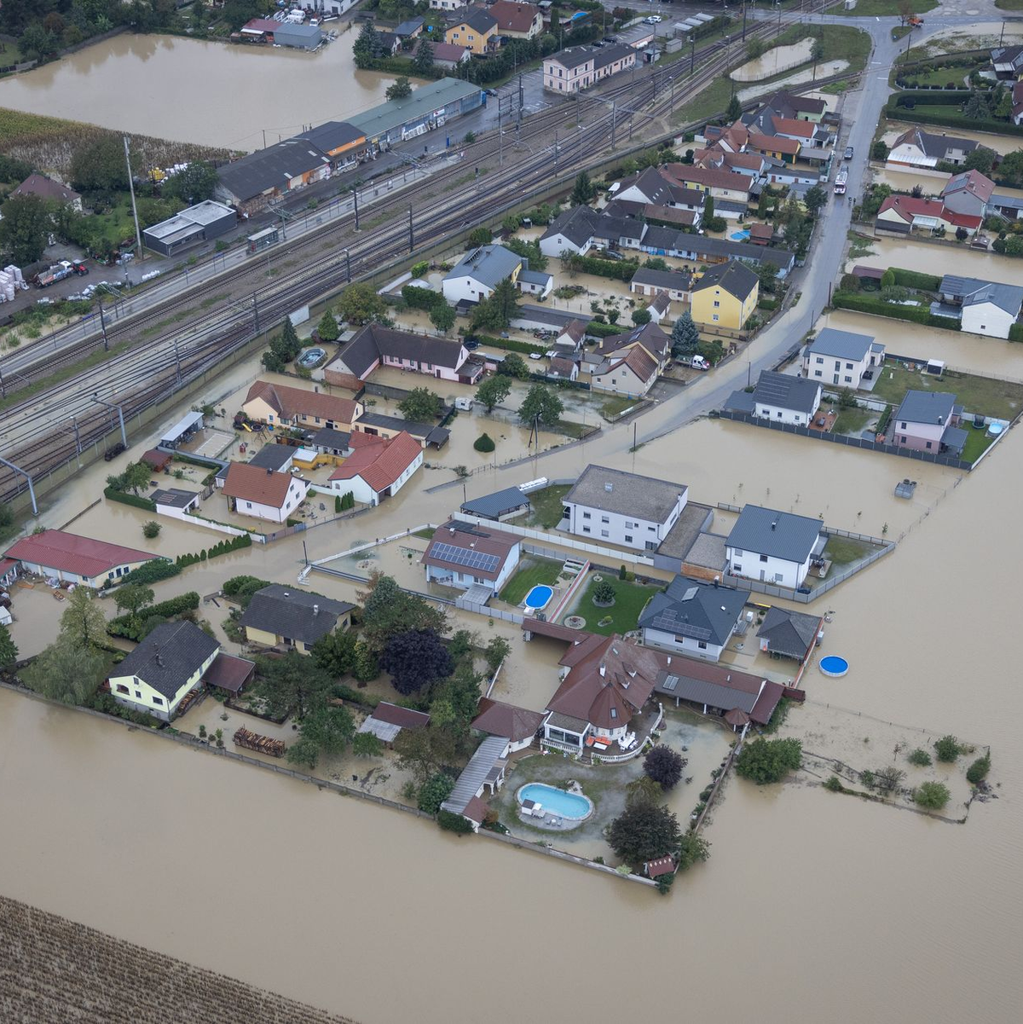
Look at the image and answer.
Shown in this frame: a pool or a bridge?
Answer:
pool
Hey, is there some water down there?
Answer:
Yes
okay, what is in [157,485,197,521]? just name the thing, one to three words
building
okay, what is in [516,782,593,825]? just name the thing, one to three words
swimming pool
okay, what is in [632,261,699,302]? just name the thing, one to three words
house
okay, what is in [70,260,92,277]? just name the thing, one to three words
work vehicle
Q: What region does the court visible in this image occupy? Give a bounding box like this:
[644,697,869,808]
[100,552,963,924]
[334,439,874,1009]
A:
[198,425,247,463]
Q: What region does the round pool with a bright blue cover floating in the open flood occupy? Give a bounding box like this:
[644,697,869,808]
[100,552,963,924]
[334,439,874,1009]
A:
[819,655,849,678]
